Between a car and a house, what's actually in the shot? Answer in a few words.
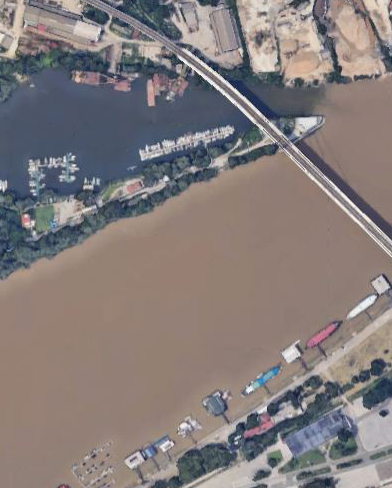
house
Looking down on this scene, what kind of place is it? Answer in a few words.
port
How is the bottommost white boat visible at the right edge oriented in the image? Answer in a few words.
diagonally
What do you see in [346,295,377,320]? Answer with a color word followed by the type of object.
white boat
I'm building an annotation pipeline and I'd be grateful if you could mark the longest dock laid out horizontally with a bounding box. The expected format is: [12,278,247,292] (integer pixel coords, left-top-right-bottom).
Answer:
[139,128,239,161]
